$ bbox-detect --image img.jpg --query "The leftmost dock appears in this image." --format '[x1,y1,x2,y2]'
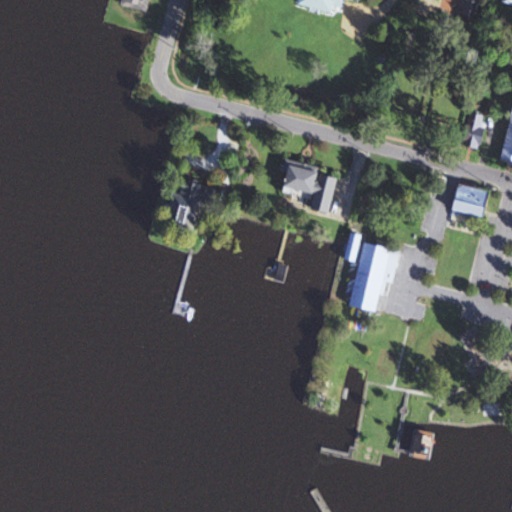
[172,253,192,317]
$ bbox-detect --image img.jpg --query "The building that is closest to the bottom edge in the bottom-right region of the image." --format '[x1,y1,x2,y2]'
[409,430,436,460]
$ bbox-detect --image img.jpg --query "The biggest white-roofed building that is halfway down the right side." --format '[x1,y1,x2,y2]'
[350,242,400,313]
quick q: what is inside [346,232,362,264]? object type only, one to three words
building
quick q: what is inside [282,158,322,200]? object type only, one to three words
house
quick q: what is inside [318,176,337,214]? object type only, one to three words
building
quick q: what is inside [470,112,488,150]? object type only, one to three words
house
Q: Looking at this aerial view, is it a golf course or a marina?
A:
marina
